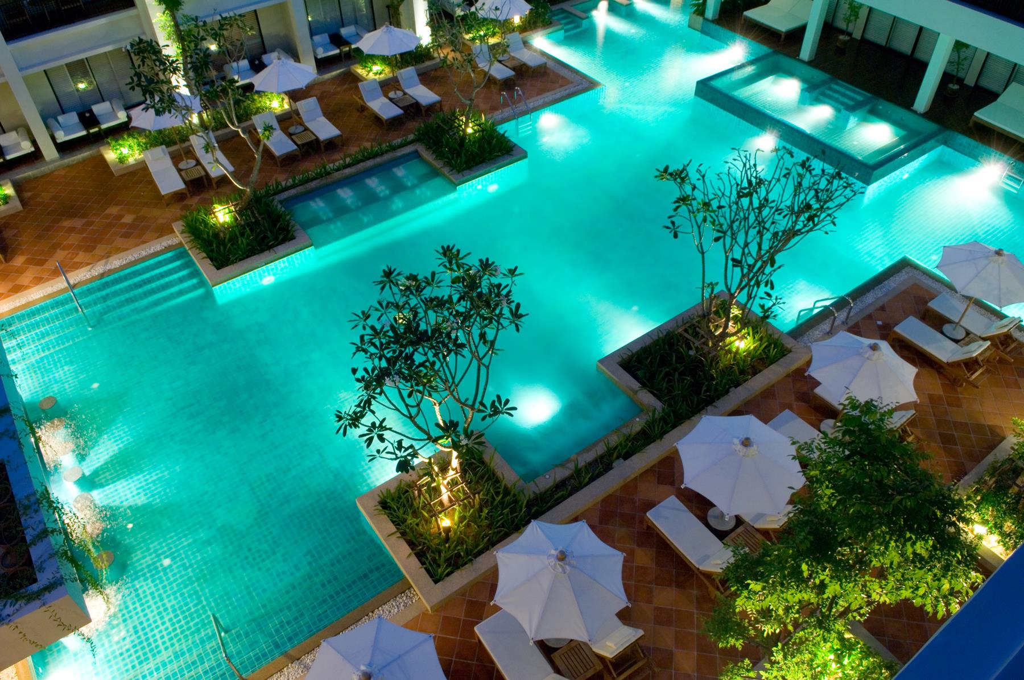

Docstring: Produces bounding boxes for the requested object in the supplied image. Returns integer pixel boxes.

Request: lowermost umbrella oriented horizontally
[307,613,448,680]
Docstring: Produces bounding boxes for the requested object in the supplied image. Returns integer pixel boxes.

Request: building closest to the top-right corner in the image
[800,0,1024,113]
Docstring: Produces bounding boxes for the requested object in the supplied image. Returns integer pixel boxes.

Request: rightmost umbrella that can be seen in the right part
[930,241,1024,341]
